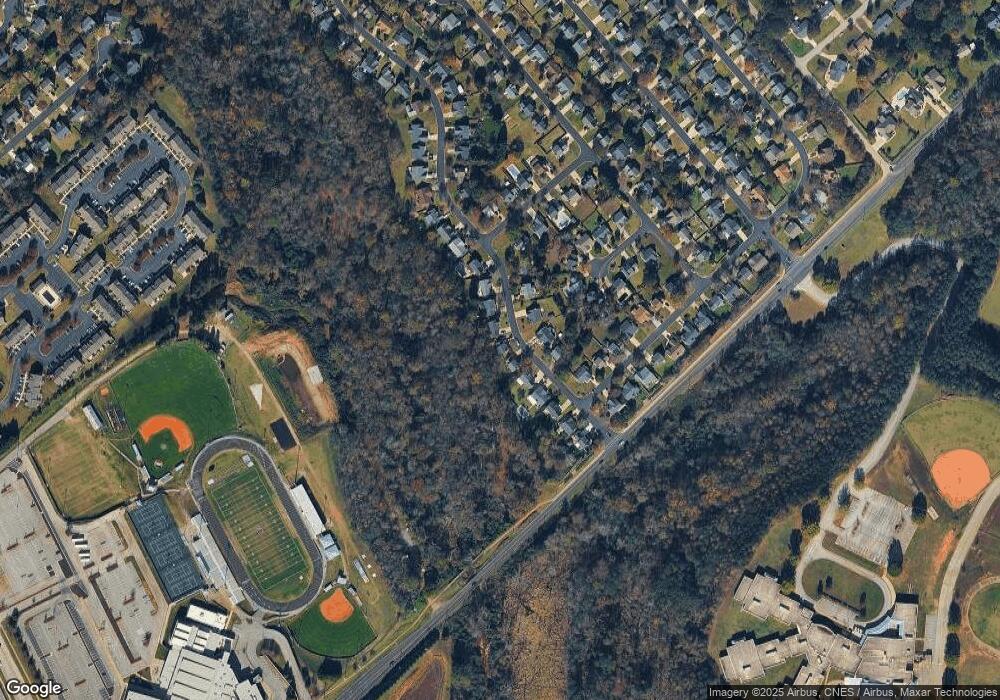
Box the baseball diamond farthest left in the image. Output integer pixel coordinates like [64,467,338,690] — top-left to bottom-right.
[109,340,237,484]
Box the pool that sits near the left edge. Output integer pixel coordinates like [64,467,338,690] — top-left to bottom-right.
[34,284,61,308]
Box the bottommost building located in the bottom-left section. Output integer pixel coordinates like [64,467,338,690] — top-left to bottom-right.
[125,605,263,700]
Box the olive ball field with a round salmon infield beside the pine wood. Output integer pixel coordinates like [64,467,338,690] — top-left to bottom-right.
[902,396,1000,511]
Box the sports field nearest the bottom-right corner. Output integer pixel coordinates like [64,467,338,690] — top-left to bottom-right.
[969,577,1000,651]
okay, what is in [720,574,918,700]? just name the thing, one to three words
building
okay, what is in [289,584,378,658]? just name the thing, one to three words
baseball field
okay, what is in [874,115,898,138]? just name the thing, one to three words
house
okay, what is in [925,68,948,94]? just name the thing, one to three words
house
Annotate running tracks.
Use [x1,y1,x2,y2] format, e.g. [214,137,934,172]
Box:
[188,435,325,613]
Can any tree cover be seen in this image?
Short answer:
Yes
